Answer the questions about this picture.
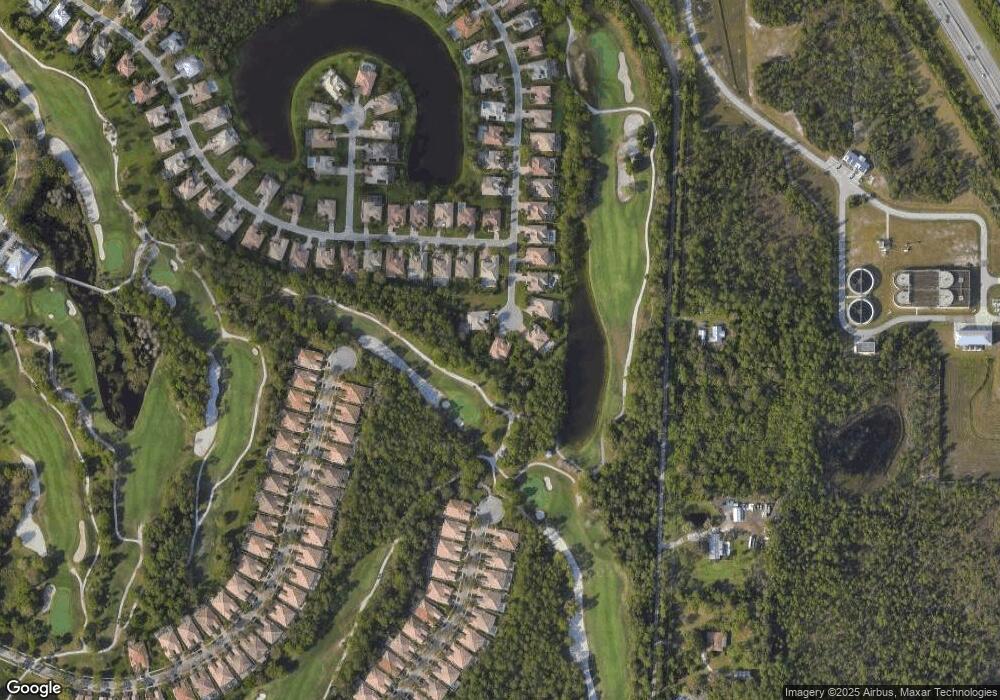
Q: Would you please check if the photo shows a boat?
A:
No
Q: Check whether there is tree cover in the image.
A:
Yes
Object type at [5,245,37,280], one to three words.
building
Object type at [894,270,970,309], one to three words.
storage tank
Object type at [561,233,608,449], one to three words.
pond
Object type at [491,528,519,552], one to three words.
house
